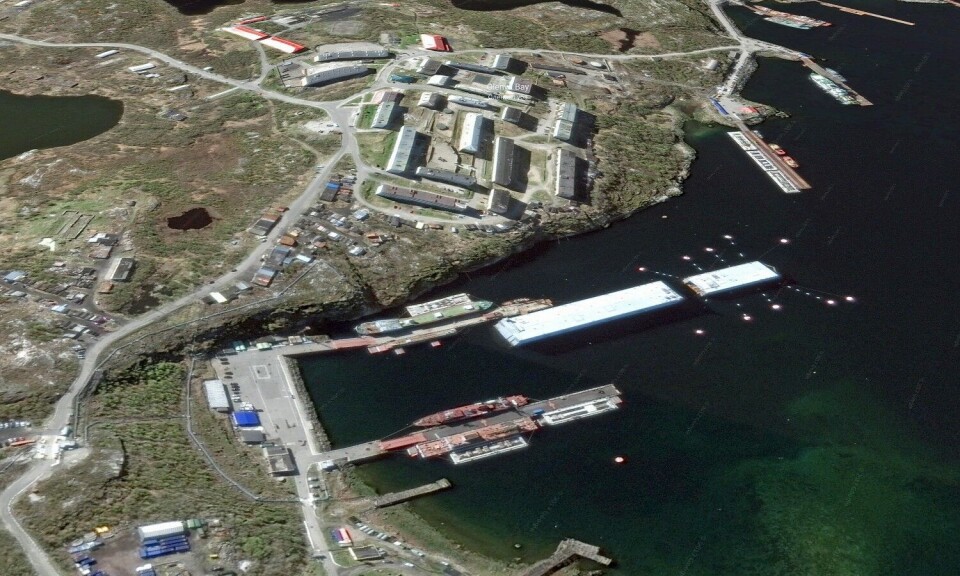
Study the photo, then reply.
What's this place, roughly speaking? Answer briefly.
port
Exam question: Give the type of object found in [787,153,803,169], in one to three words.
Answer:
boat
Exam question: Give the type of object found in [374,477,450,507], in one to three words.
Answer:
pier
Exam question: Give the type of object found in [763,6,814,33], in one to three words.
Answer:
ship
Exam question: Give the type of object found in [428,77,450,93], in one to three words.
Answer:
building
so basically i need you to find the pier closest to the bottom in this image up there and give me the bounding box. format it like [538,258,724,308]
[523,538,611,576]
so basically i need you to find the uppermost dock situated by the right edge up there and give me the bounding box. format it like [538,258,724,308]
[820,0,914,26]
